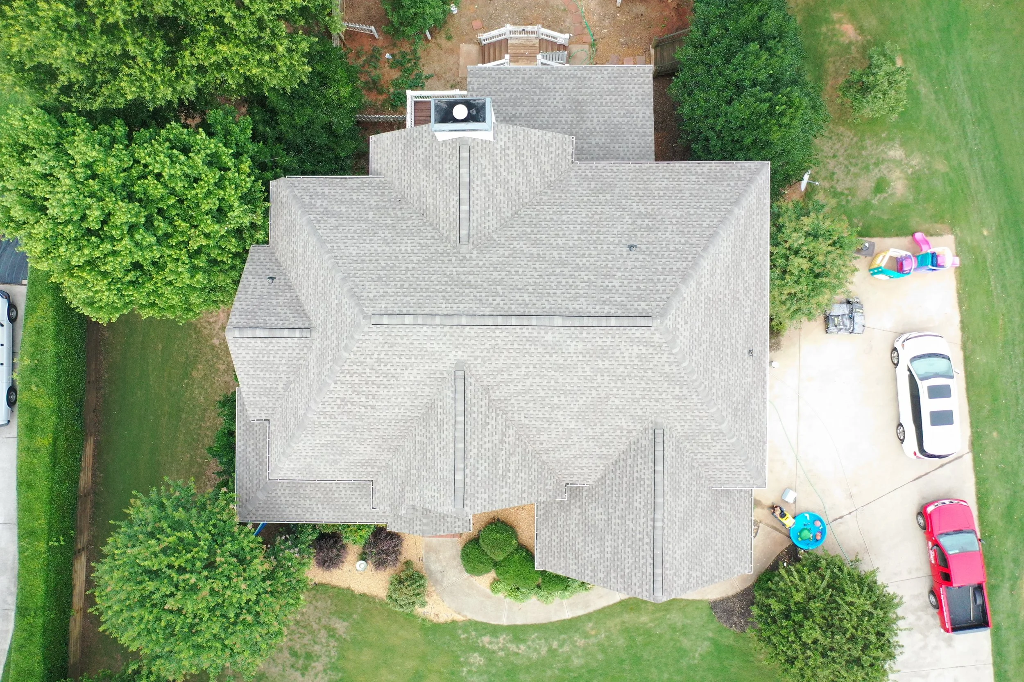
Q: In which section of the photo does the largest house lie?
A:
center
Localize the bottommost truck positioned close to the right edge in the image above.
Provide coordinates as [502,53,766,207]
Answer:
[917,495,996,639]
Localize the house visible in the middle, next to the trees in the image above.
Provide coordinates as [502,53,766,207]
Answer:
[224,65,771,603]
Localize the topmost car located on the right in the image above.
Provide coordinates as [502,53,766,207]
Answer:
[891,330,963,460]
